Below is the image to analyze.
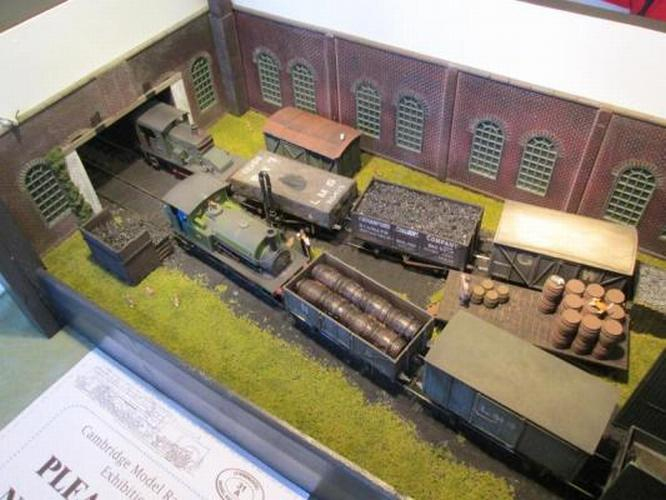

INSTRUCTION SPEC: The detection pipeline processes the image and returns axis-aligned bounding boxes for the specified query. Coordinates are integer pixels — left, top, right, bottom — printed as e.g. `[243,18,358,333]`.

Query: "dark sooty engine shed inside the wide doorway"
[136,86,176,112]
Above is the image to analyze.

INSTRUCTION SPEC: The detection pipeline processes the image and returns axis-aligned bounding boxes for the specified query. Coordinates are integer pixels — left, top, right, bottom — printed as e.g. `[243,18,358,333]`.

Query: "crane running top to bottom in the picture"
[260,174,282,233]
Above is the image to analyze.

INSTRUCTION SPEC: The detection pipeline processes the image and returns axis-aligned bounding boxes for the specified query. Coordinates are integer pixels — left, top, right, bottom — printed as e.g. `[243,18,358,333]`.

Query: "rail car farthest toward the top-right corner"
[343,176,487,272]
